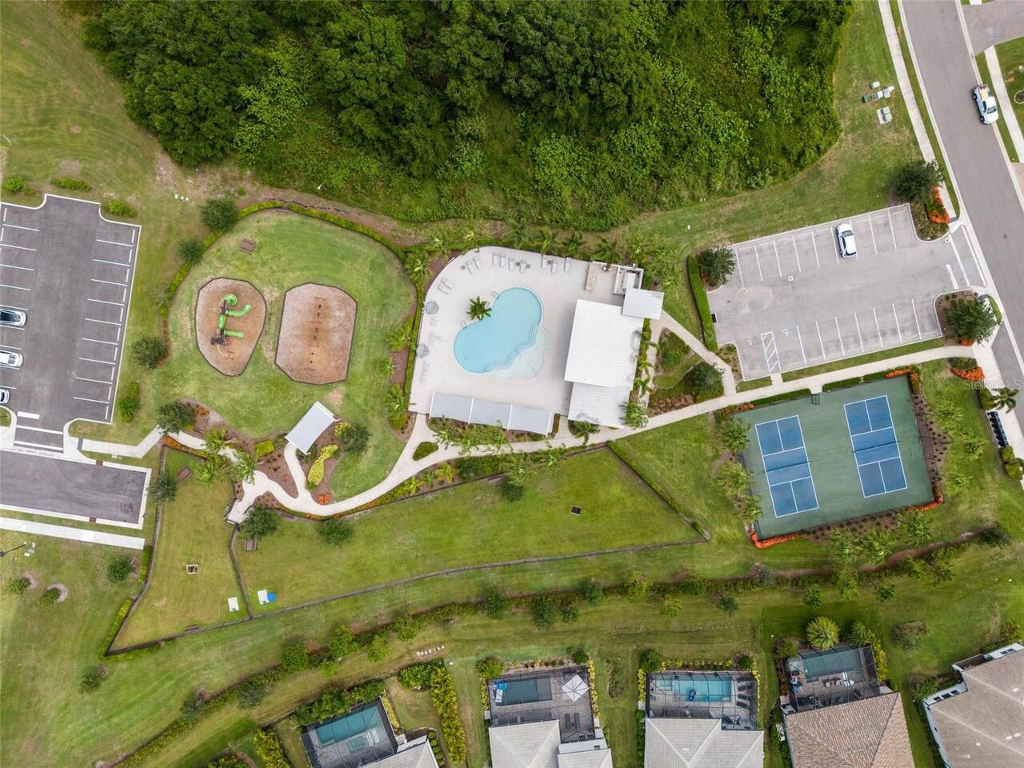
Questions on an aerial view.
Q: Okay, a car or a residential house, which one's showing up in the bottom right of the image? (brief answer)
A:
residential house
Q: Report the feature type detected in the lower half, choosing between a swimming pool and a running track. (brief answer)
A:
swimming pool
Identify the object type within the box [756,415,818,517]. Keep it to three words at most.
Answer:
sports court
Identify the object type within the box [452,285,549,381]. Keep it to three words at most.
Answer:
swimming pool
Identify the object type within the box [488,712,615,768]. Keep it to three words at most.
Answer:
house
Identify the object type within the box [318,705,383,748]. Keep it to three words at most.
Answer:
swimming pool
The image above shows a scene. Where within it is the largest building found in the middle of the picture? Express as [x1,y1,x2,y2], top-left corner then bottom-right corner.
[564,286,664,428]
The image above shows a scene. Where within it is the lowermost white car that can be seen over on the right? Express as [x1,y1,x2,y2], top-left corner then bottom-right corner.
[835,222,859,258]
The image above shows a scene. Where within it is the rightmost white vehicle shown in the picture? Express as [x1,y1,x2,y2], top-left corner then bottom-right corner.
[975,80,1002,123]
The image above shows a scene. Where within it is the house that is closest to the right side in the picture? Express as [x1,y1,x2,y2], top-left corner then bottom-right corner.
[920,644,1024,768]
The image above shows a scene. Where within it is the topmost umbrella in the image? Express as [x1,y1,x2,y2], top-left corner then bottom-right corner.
[425,300,439,314]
